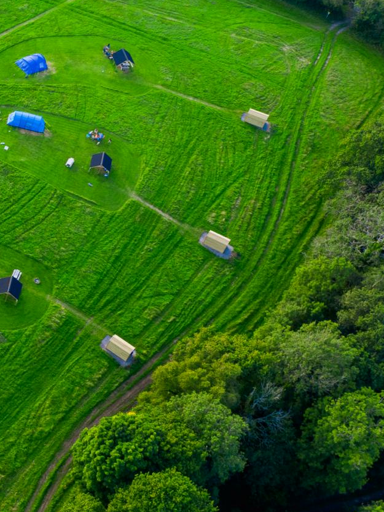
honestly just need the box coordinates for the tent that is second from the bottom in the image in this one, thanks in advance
[197,233,230,261]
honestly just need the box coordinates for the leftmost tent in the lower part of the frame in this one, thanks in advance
[102,336,136,366]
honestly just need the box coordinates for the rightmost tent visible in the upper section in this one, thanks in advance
[239,113,269,135]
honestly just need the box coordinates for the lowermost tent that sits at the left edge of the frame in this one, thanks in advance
[4,108,48,135]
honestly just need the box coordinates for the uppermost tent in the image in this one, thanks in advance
[16,50,49,76]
